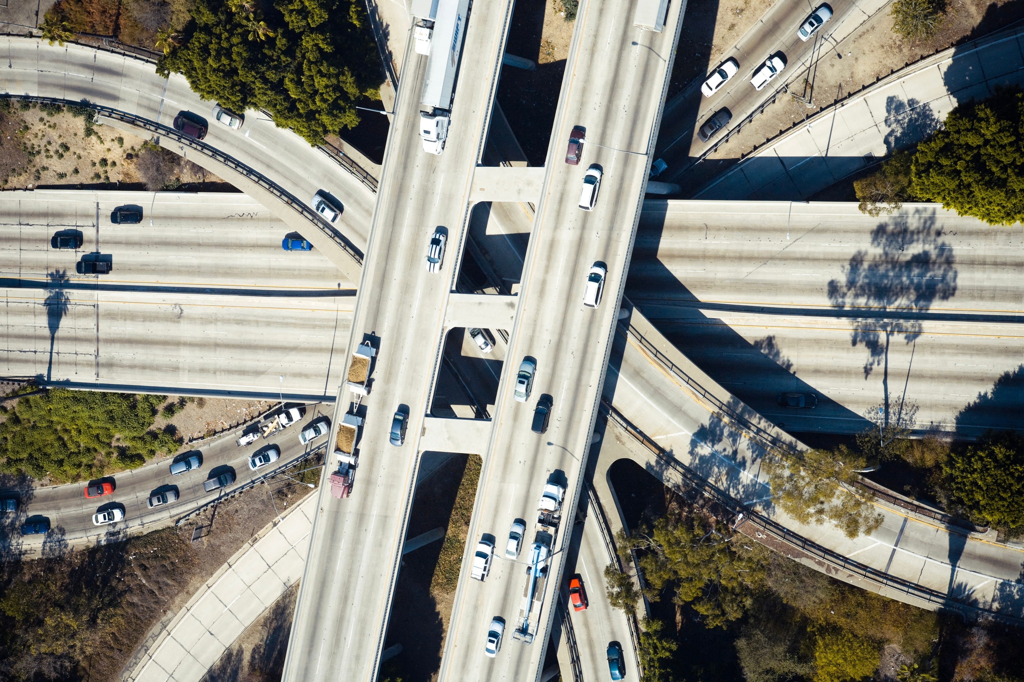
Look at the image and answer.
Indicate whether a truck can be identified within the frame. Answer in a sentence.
Yes, a truck can be made out from above.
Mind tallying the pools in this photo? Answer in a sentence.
There are no pools in the image.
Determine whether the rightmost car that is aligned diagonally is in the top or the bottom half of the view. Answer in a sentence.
It is in the top half that the rightmost car that is aligned diagonally appears.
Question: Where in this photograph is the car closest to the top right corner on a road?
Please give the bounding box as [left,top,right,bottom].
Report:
[796,5,834,42]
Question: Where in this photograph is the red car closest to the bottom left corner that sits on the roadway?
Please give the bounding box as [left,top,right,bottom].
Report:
[84,482,116,499]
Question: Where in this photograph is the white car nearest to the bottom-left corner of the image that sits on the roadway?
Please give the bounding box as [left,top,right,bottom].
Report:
[92,508,126,526]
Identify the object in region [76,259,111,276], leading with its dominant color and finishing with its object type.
black vehicle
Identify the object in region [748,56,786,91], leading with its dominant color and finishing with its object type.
white truck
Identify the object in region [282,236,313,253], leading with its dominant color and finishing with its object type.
blue car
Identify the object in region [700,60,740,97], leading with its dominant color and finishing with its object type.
white car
